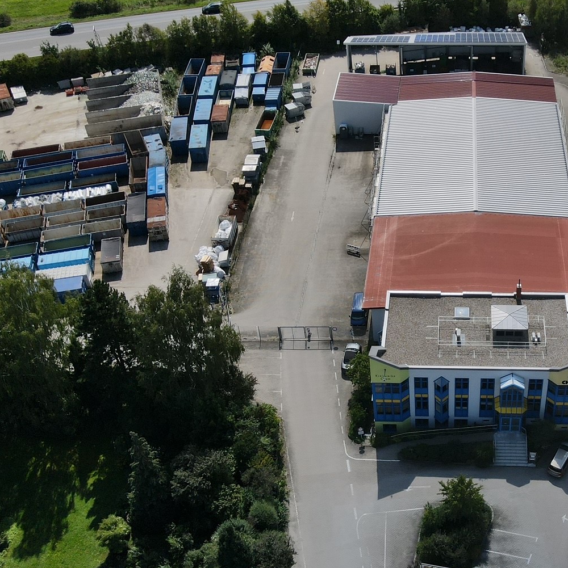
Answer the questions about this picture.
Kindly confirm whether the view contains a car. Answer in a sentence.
Yes, this view includes a car.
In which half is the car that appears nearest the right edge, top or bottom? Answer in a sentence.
Seen from above, the car that appears nearest the right edge lies in the bottom half of the view.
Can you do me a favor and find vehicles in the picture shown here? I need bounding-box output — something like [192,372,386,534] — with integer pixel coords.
[201,0,226,13]
[348,286,366,325]
[545,437,568,478]
[49,22,74,36]
[341,338,362,373]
